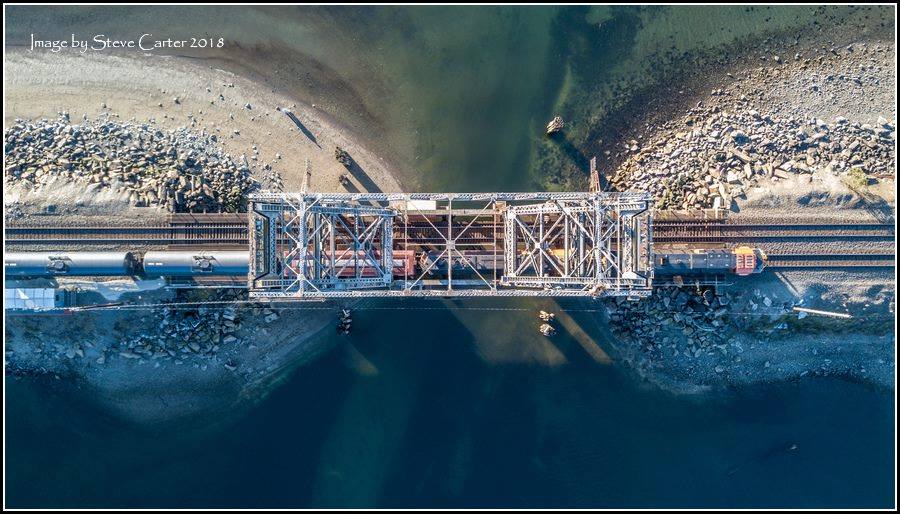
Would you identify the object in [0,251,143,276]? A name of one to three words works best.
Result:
rail car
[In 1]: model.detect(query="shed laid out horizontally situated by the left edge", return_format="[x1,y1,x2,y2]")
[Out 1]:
[0,287,84,316]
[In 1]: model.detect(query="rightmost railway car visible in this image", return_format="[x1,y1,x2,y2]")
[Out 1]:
[582,248,766,275]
